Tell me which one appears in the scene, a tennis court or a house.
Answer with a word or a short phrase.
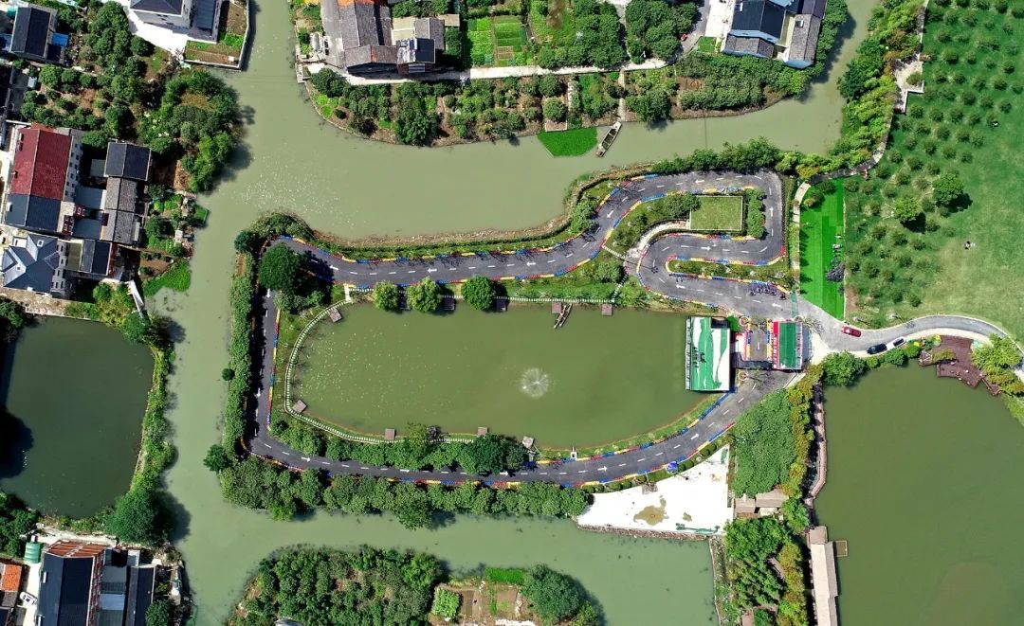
house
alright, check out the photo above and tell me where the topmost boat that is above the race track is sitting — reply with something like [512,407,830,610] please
[598,121,624,157]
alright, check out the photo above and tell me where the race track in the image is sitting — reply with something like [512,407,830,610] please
[239,161,843,492]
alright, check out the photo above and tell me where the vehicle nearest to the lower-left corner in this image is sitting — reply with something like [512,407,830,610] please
[19,591,38,606]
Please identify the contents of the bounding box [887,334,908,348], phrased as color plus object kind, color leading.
white car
